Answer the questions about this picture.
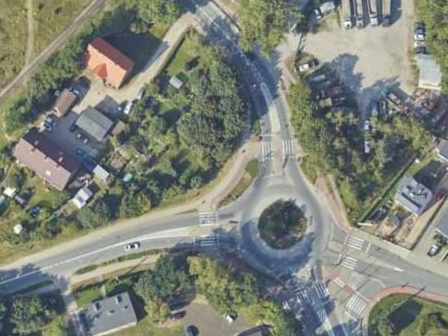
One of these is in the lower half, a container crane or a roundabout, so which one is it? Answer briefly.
roundabout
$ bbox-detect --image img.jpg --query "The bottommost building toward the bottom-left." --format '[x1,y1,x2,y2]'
[82,293,138,336]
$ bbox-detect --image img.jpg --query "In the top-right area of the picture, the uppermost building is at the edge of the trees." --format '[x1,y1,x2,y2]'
[418,57,442,90]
